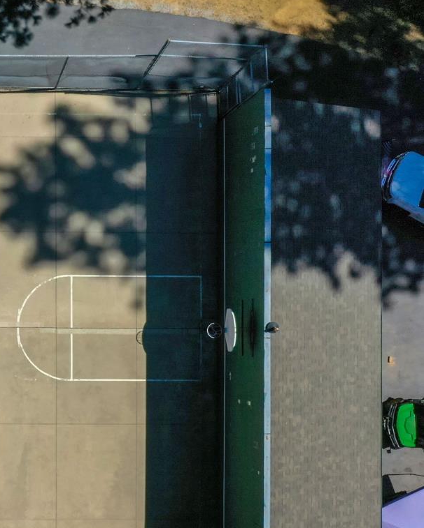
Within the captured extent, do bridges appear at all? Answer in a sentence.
No, I can't see a single bridge in this photo.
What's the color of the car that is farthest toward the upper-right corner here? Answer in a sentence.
In this view, the car that is farthest toward the upper-right corner is blue.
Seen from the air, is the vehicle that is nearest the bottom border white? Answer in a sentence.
No, from above the vehicle that is nearest the bottom border looks green.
